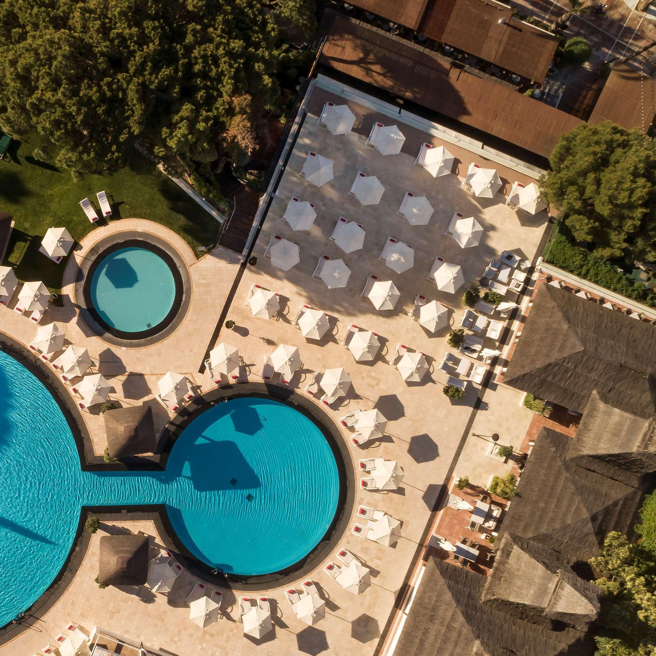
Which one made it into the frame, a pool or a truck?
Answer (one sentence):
This aerial view contains a pool.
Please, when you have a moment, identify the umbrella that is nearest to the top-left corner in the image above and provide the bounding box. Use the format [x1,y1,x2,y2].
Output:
[43,225,74,258]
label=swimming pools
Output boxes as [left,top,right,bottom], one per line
[90,247,176,332]
[0,350,341,630]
